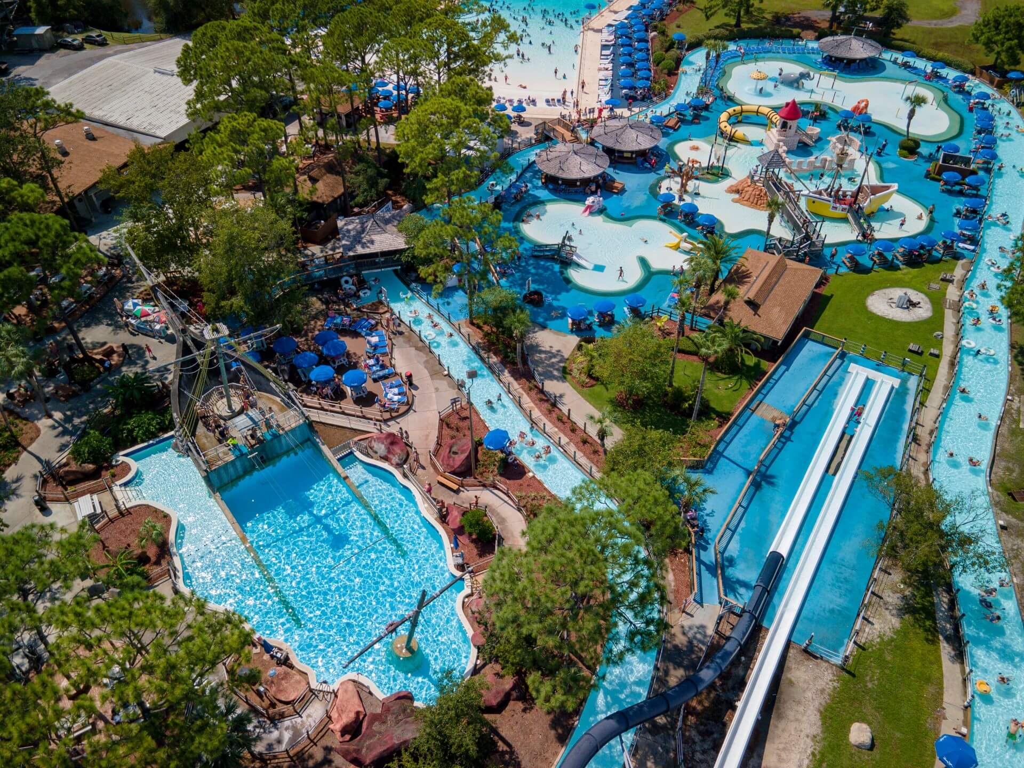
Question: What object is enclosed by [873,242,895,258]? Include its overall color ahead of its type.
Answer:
blue umbrella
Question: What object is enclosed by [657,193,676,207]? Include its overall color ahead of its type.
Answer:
blue umbrella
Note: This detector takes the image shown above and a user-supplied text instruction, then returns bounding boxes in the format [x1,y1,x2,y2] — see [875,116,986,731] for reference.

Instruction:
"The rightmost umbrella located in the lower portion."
[930,729,980,768]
